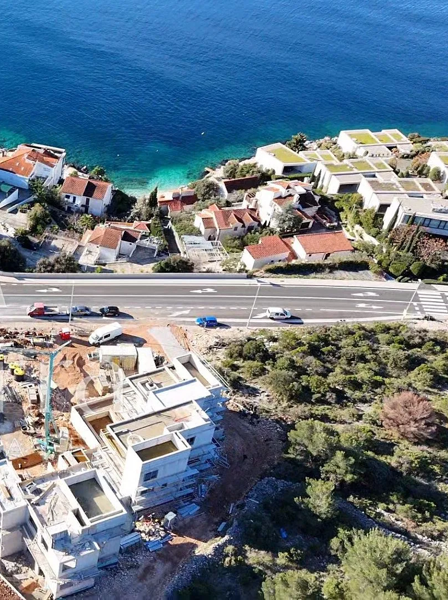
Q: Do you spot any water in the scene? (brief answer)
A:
Yes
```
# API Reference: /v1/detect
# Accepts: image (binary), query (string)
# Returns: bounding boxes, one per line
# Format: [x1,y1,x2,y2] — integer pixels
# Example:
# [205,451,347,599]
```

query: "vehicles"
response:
[194,316,221,327]
[27,302,59,318]
[265,306,294,320]
[97,304,122,316]
[89,320,124,345]
[67,304,93,316]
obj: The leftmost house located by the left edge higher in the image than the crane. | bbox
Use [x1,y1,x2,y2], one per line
[0,151,77,196]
